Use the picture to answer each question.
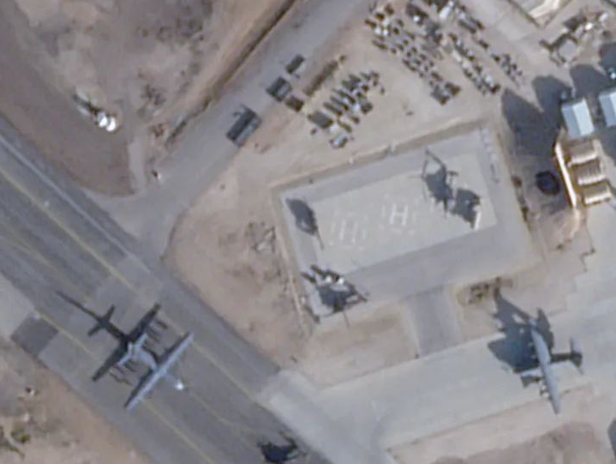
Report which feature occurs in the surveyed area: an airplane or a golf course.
airplane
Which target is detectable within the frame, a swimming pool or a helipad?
helipad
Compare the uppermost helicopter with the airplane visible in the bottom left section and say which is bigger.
the airplane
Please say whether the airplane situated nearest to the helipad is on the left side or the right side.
right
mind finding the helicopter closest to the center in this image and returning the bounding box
[304,209,327,255]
